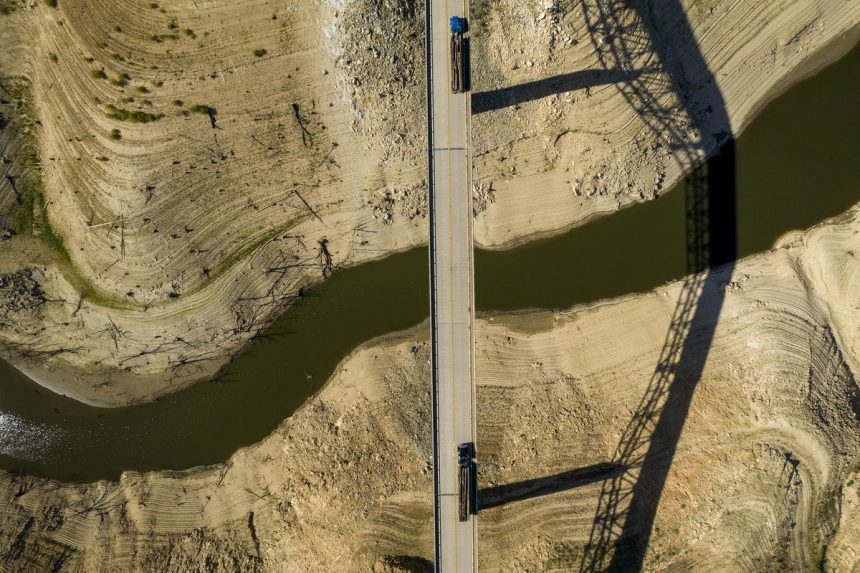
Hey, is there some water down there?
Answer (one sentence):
Yes, the picture does contain water.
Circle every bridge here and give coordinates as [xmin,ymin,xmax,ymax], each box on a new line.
[425,0,480,573]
